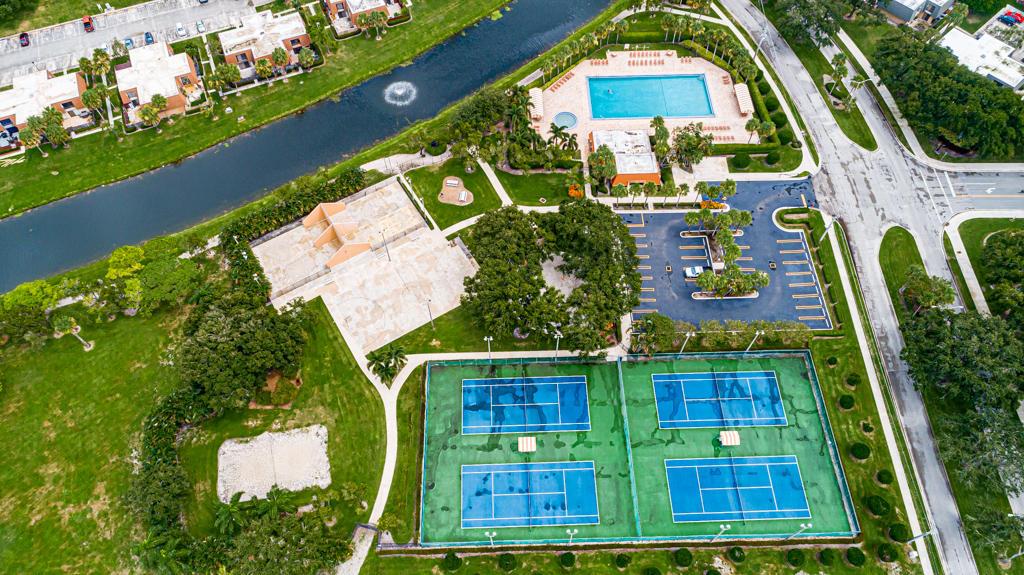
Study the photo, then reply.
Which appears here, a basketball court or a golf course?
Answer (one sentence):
There is a basketball court in the scene.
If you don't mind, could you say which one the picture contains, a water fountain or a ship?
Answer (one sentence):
The image shows a water fountain.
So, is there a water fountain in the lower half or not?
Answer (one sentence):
No, no water fountain can be made out in the lower half.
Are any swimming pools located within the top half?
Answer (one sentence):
Yes, a swimming pool shows up within the top half.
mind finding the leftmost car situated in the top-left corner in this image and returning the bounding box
[17,32,29,46]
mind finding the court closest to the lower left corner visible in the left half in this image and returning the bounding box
[217,424,333,505]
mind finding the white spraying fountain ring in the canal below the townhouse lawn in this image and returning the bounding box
[382,82,420,108]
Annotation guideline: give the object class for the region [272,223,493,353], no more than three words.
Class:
basketball court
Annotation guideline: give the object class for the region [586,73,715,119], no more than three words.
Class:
swimming pool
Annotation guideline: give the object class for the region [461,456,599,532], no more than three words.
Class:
tennis court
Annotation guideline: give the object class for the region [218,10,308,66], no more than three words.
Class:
house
